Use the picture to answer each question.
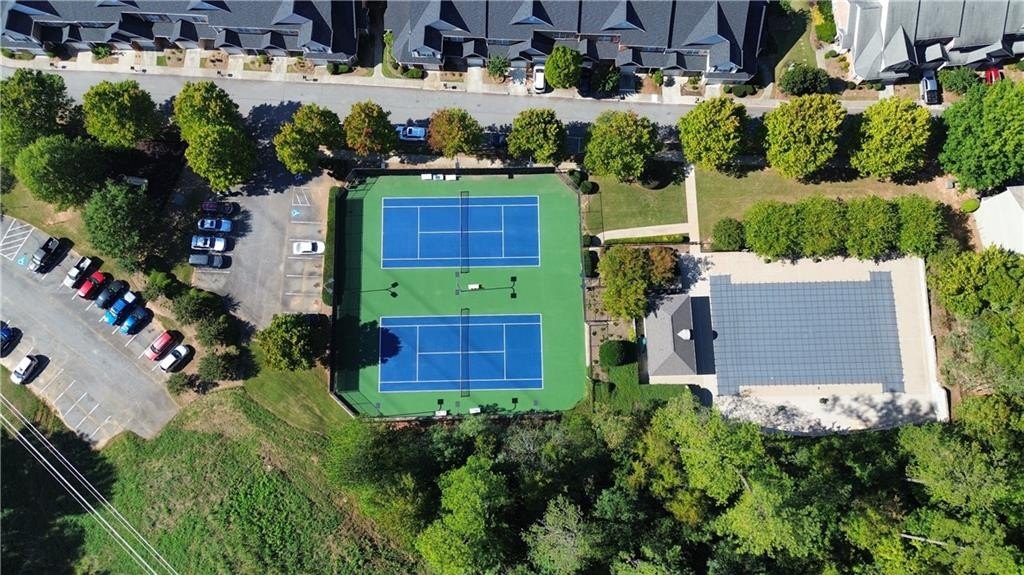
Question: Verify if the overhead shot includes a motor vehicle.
Yes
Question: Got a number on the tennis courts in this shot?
2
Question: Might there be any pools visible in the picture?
Yes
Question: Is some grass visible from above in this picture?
Yes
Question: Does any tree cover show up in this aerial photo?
Yes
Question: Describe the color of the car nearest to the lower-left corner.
white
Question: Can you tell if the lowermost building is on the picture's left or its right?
right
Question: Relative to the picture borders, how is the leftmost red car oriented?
diagonally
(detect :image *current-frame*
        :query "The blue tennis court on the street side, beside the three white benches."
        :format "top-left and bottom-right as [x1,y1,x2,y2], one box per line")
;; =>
[341,174,584,291]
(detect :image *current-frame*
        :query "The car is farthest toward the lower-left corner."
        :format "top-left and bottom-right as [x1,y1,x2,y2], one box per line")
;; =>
[10,352,38,385]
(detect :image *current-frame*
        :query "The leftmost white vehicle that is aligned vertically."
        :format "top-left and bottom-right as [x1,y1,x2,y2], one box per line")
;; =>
[532,64,546,94]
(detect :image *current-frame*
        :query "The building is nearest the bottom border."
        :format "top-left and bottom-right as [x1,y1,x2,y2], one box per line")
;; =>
[644,294,697,376]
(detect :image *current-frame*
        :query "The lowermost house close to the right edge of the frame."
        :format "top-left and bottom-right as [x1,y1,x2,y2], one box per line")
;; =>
[964,184,1024,258]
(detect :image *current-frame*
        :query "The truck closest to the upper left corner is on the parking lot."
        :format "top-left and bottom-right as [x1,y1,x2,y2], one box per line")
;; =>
[27,237,61,273]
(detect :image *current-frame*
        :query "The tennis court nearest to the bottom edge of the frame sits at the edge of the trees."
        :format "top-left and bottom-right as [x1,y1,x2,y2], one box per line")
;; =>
[338,291,589,418]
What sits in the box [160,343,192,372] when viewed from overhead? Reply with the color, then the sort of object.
white car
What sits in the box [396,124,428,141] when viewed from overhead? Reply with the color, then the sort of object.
blue car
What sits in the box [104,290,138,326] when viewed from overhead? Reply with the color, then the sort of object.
blue truck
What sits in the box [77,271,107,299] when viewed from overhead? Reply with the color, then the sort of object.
red car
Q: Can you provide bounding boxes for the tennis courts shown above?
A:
[341,174,584,291]
[338,291,589,418]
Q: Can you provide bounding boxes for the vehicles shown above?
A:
[160,343,192,372]
[61,255,95,291]
[96,279,125,309]
[145,328,176,362]
[921,68,940,105]
[10,352,38,385]
[27,237,61,273]
[197,218,233,233]
[0,323,18,352]
[293,240,323,256]
[188,253,224,270]
[482,131,512,148]
[532,64,546,94]
[396,124,428,141]
[77,271,107,299]
[104,290,138,326]
[121,305,150,337]
[191,235,228,251]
